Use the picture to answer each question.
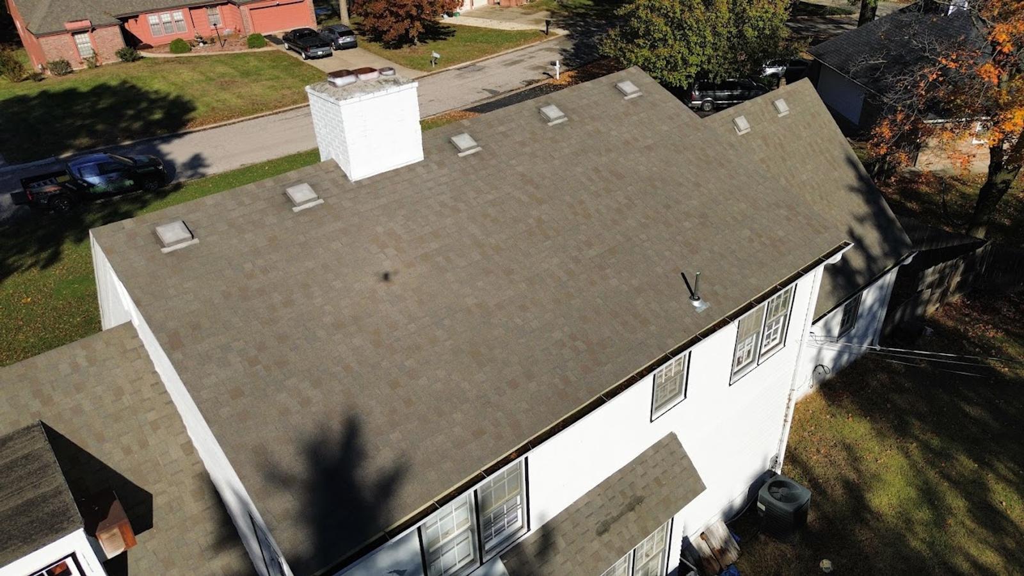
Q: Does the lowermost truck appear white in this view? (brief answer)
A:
No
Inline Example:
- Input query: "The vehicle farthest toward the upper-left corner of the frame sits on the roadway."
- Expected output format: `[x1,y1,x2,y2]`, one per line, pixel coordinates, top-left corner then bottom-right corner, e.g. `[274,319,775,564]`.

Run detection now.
[1,140,178,212]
